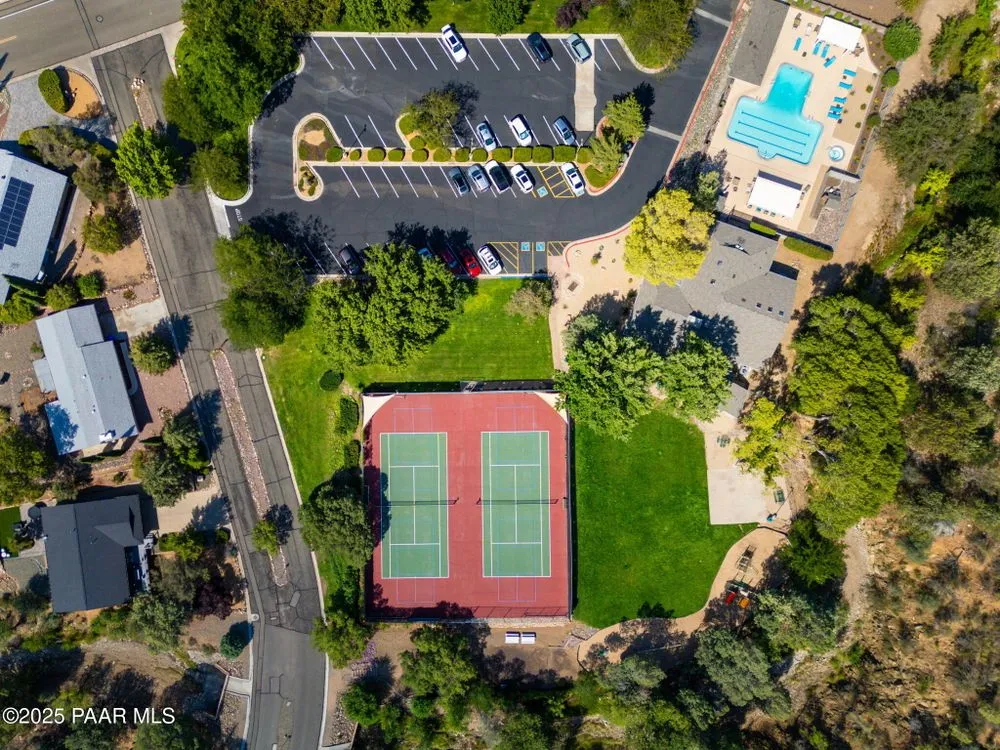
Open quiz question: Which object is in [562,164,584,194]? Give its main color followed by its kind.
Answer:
white car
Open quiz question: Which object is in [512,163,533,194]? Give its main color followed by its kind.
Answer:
white car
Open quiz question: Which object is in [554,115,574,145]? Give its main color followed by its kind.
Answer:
blue car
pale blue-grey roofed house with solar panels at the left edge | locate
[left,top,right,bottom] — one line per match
[0,150,74,296]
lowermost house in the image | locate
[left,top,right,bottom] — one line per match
[41,495,150,613]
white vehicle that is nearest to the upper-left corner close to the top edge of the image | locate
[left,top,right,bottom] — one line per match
[441,23,465,59]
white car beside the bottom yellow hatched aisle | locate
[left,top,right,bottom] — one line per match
[479,243,500,273]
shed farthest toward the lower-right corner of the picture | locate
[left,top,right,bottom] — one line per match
[717,385,748,417]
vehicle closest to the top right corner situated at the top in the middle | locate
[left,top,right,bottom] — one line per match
[569,33,590,63]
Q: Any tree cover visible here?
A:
Yes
